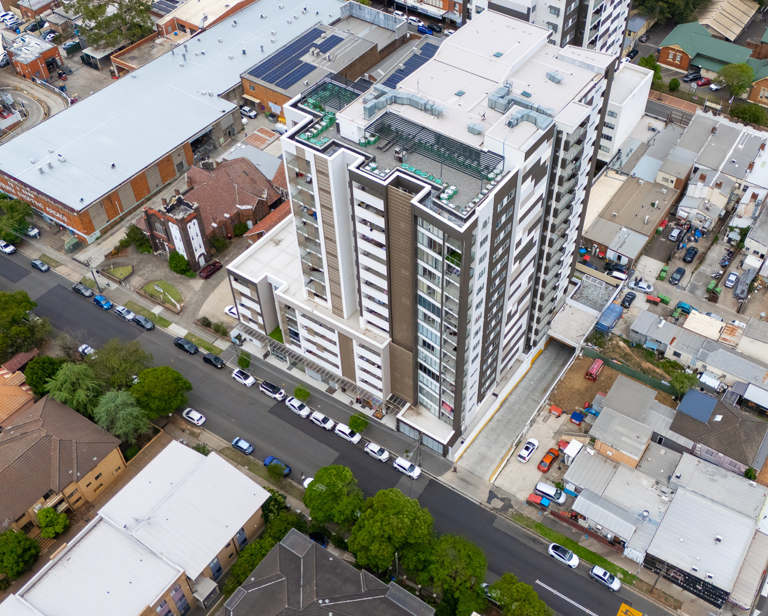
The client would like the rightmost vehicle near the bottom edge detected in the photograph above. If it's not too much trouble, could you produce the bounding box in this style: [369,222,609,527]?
[585,564,623,594]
